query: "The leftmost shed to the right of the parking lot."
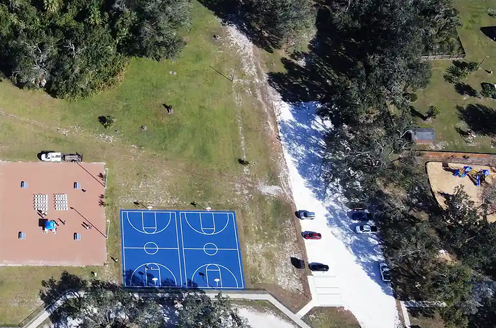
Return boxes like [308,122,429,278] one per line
[411,127,438,144]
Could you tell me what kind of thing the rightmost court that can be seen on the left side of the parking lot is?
basketball court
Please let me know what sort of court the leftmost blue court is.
basketball court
